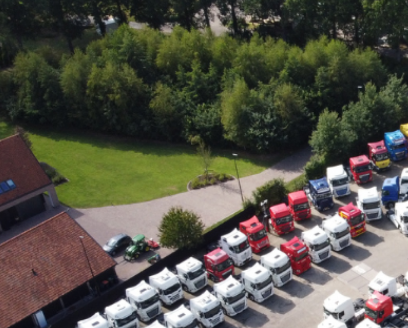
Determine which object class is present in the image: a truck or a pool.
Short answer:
truck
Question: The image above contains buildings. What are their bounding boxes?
[0,133,57,225]
[0,209,124,328]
